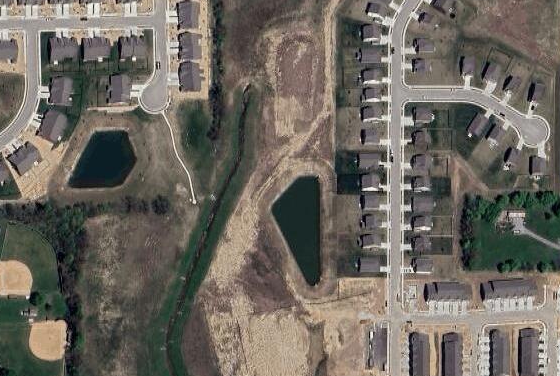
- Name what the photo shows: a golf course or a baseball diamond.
baseball diamond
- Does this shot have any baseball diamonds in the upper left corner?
No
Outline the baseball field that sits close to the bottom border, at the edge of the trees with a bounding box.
[0,319,67,376]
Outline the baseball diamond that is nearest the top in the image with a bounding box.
[0,224,62,297]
